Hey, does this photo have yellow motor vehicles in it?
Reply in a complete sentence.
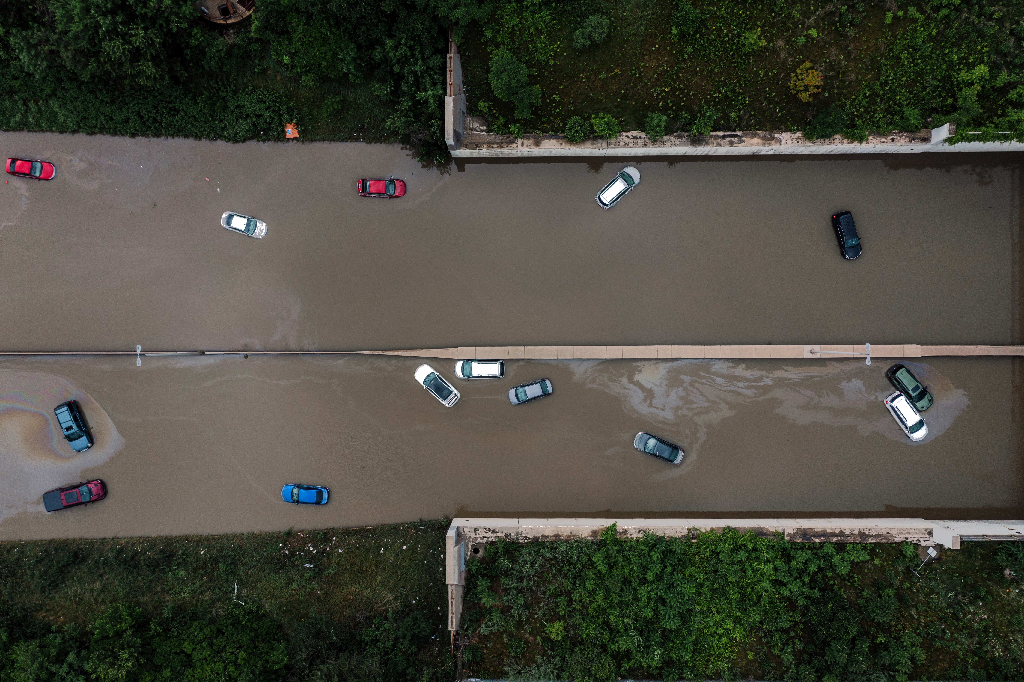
No, there appears to be no yellow motor vehicle in this shot.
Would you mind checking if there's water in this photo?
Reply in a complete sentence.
Yes, some water is visible.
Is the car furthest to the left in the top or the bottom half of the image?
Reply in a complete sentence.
The top half of the photo is where the car furthest to the left is.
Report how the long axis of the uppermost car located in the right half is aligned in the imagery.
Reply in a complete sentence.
From this overhead view, the uppermost car located in the right half appears to run diagonally.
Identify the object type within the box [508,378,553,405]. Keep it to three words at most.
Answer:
car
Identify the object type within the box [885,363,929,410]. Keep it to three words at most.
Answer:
car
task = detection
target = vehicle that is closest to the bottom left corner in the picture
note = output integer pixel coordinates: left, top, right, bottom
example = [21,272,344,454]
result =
[43,480,109,512]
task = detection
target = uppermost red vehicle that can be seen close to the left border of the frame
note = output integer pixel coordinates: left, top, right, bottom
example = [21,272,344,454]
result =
[7,157,58,181]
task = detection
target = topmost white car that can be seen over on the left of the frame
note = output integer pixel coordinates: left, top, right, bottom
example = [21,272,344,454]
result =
[222,211,269,239]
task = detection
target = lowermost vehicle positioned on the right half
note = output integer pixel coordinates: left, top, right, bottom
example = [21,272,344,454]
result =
[633,431,684,465]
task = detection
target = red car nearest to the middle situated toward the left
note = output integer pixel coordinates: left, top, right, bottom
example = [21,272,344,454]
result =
[353,176,406,199]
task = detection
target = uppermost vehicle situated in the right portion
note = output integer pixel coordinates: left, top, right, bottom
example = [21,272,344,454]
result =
[595,166,640,210]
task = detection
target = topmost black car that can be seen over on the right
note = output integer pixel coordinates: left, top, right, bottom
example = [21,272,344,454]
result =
[830,211,862,260]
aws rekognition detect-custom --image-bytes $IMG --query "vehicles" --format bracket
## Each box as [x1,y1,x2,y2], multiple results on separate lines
[882,390,926,440]
[353,176,406,199]
[508,378,553,405]
[283,483,330,507]
[830,211,862,260]
[54,401,94,451]
[455,359,504,382]
[43,480,109,512]
[7,157,58,181]
[415,363,462,409]
[885,363,929,410]
[633,431,684,465]
[595,166,640,210]
[222,211,269,239]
